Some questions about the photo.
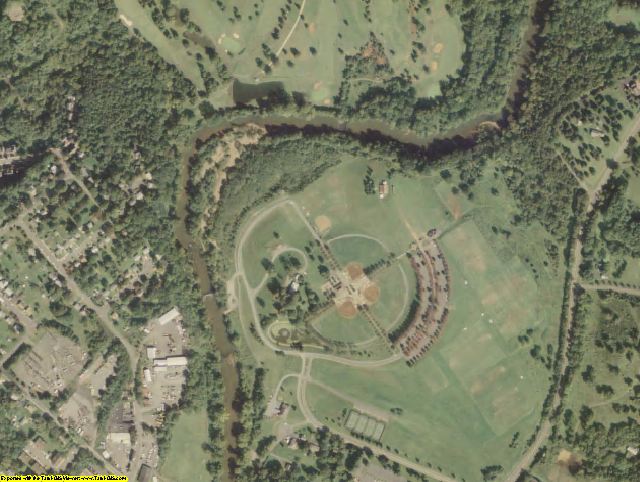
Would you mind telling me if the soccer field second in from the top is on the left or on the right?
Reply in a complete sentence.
It is on the right.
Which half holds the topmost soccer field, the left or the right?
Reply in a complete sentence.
It is on the right.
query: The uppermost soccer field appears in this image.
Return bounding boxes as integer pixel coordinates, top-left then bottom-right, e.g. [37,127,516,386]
[449,226,502,292]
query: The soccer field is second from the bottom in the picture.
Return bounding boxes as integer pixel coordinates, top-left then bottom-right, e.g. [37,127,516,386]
[446,330,503,382]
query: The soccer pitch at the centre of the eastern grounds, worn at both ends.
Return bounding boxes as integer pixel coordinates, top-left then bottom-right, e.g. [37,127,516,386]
[478,270,536,338]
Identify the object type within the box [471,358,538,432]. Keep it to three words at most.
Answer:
soccer field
